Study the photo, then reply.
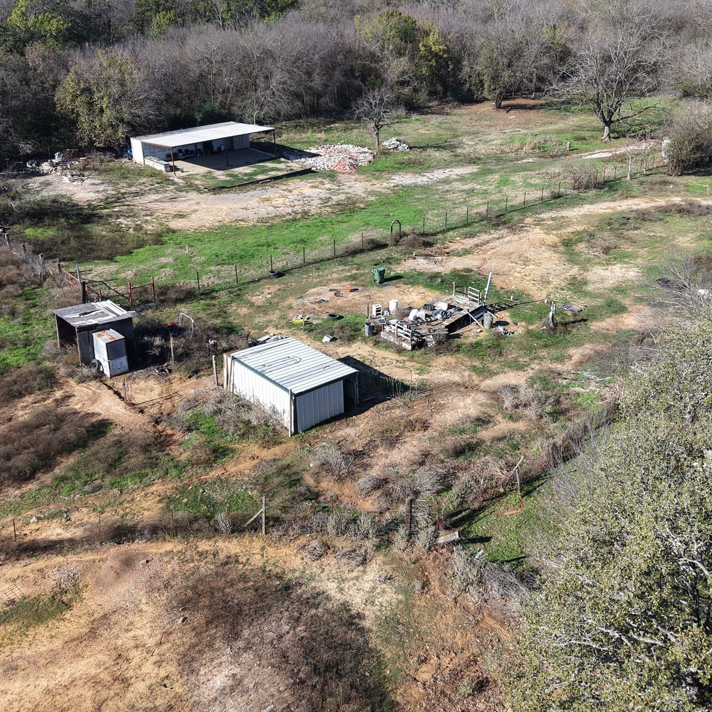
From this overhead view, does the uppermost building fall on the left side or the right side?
left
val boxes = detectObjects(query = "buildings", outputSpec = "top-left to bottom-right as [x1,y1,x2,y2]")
[134,117,278,177]
[45,296,137,368]
[209,331,362,443]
